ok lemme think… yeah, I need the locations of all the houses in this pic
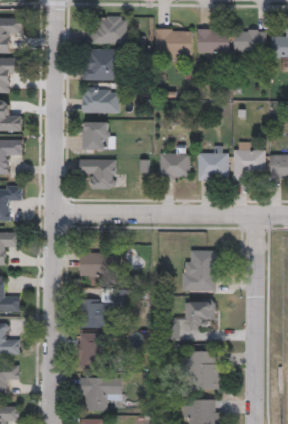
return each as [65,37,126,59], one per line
[83,50,114,81]
[0,18,22,53]
[0,187,22,222]
[0,363,19,394]
[82,88,120,114]
[80,379,122,413]
[197,30,230,54]
[273,26,288,74]
[156,29,193,60]
[172,302,215,342]
[92,16,127,44]
[0,324,20,356]
[80,253,105,286]
[0,407,18,424]
[192,352,219,391]
[234,150,266,182]
[234,30,266,52]
[0,233,16,266]
[0,140,22,176]
[80,332,96,371]
[198,146,230,181]
[183,250,215,292]
[82,300,104,329]
[83,122,108,150]
[161,154,190,178]
[79,160,116,190]
[0,100,22,132]
[184,401,219,424]
[0,58,14,94]
[270,155,288,178]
